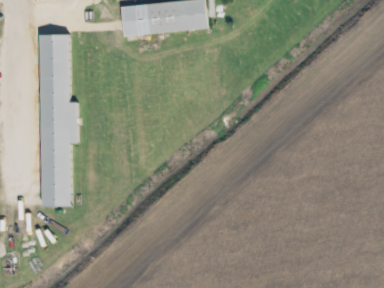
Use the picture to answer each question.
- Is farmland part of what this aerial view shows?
Yes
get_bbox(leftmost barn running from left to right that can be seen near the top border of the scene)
[121,0,210,36]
